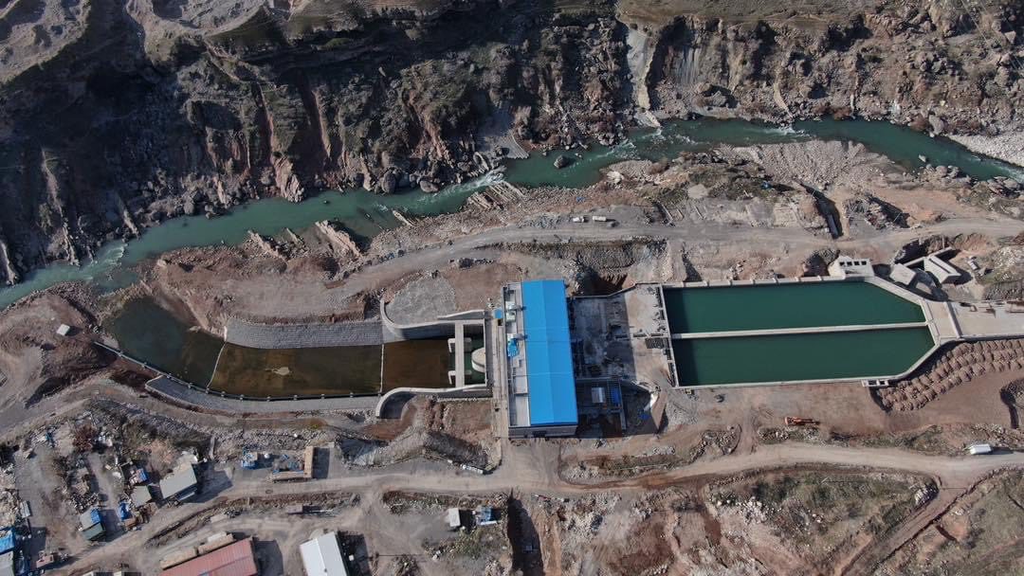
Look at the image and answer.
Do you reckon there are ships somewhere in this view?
No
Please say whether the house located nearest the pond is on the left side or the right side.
right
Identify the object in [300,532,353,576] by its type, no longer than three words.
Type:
building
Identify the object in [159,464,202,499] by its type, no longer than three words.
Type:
house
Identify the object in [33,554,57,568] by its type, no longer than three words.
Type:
vehicle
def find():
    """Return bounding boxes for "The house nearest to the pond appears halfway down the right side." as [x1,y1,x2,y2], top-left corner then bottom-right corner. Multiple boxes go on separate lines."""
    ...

[828,256,875,282]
